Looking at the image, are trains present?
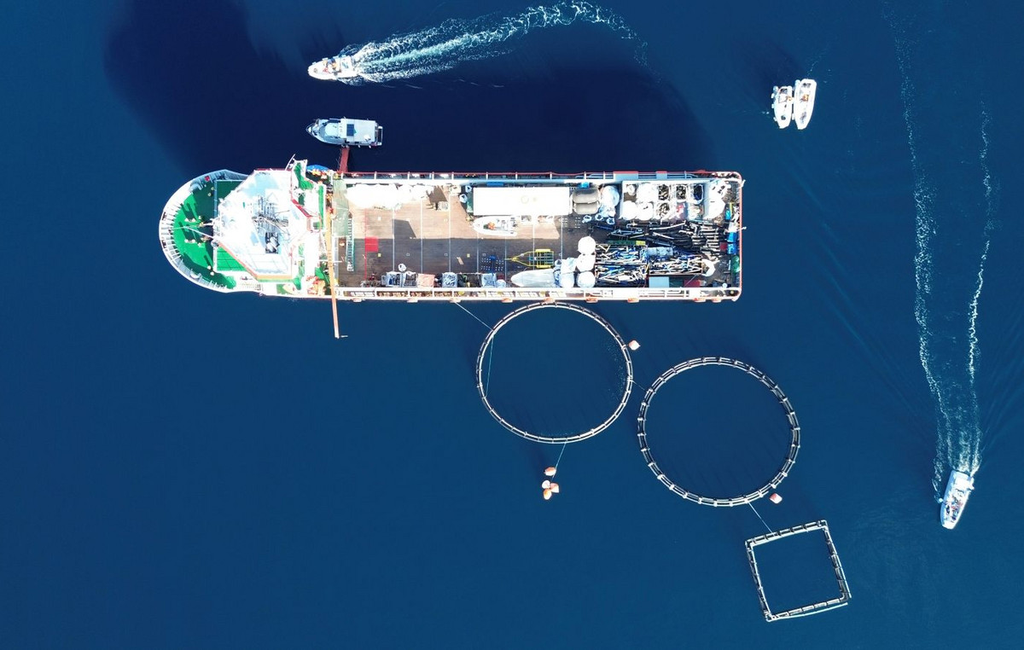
No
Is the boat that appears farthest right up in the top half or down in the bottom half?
bottom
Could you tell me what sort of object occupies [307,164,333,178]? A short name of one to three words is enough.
boat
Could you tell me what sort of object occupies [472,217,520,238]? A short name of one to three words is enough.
boat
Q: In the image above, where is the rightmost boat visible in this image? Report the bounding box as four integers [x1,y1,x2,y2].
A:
[941,467,976,531]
